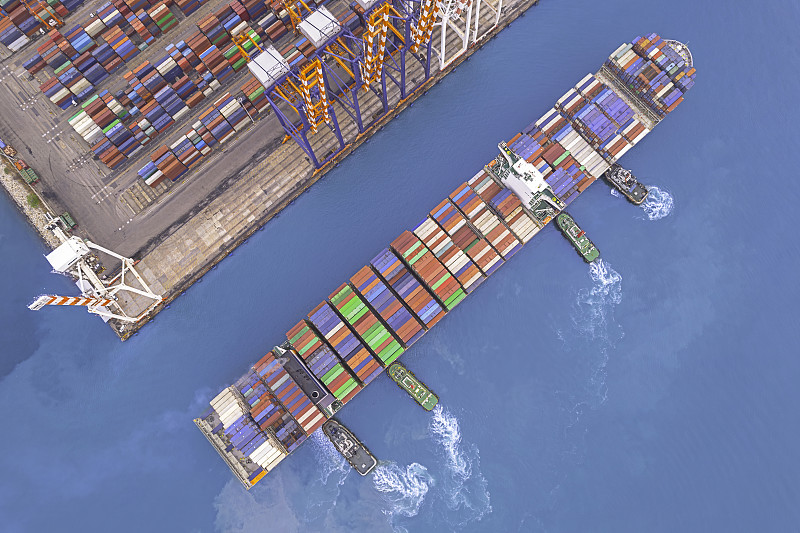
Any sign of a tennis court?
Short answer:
No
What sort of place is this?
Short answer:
port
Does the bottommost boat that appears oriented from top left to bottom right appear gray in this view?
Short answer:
Yes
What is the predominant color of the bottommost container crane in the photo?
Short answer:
white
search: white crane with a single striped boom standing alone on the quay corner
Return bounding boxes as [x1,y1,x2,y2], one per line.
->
[34,218,174,324]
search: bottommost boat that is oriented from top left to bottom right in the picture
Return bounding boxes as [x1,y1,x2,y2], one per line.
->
[323,418,380,479]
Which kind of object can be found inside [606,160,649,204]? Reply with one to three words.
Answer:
boat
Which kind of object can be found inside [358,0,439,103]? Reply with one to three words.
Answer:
container crane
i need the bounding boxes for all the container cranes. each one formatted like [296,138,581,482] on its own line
[34,218,174,324]
[280,0,396,137]
[439,0,505,45]
[358,0,439,103]
[407,0,474,73]
[230,27,354,173]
